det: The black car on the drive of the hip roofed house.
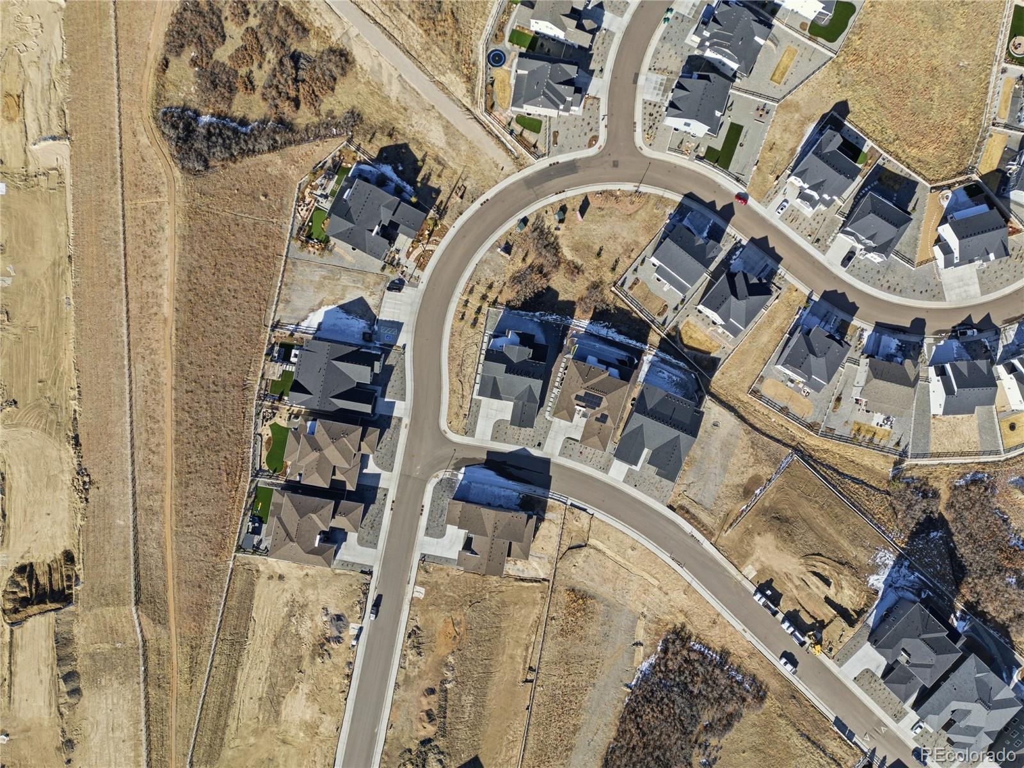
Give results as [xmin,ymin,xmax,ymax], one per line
[841,248,860,270]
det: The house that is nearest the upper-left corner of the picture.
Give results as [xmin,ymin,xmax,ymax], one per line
[326,176,429,262]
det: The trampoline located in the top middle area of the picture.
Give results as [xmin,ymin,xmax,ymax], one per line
[488,47,506,64]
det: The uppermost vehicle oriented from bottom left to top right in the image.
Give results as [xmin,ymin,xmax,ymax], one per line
[775,195,792,215]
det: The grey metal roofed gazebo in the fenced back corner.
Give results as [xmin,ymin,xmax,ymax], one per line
[236,534,253,552]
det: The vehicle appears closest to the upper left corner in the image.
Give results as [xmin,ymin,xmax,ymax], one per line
[388,275,403,295]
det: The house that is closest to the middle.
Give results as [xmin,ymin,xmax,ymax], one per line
[479,336,545,427]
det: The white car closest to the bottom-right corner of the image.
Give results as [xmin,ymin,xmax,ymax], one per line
[910,719,931,738]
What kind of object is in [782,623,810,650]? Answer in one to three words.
truck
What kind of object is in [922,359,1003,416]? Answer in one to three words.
house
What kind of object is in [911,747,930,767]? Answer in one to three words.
car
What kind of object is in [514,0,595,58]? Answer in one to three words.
house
